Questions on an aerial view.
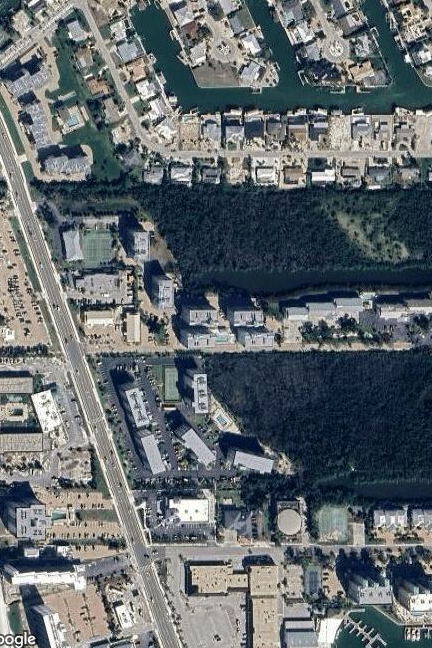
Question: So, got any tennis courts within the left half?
Yes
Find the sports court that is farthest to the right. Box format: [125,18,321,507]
[321,506,348,542]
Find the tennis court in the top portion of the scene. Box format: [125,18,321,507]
[83,232,112,264]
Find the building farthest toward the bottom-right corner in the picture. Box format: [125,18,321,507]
[396,575,432,612]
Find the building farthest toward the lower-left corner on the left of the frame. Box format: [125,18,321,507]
[33,604,71,648]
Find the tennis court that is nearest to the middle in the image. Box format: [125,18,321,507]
[164,368,179,401]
